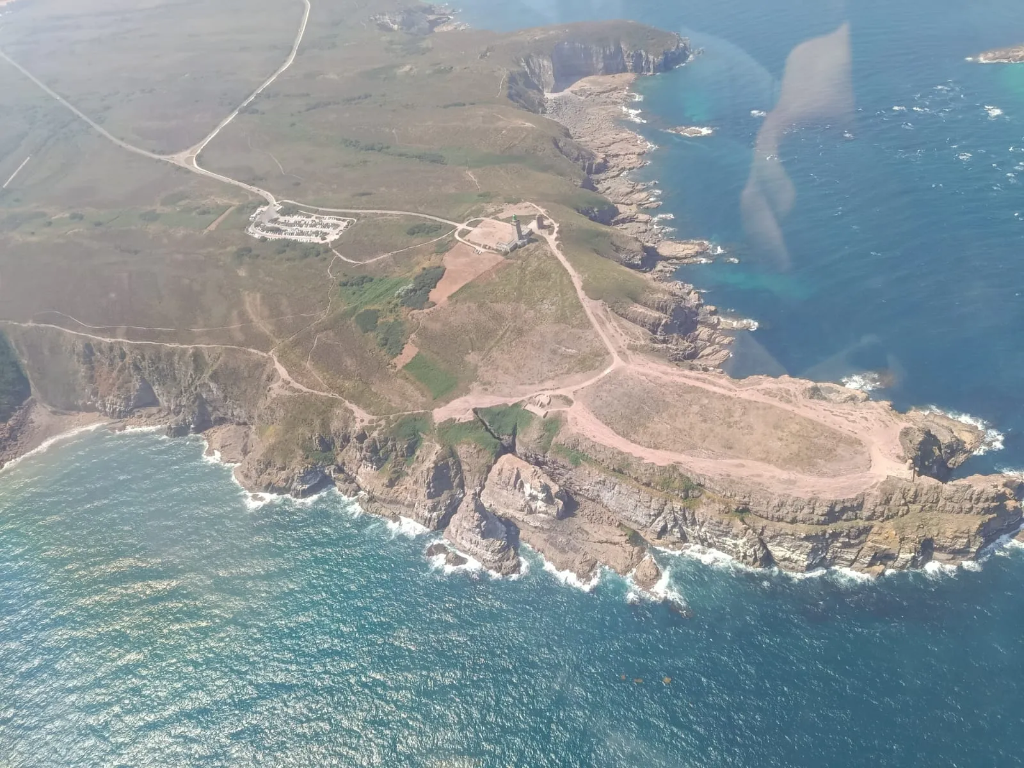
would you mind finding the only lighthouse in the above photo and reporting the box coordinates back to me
[497,213,539,260]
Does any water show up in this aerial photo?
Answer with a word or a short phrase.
Yes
